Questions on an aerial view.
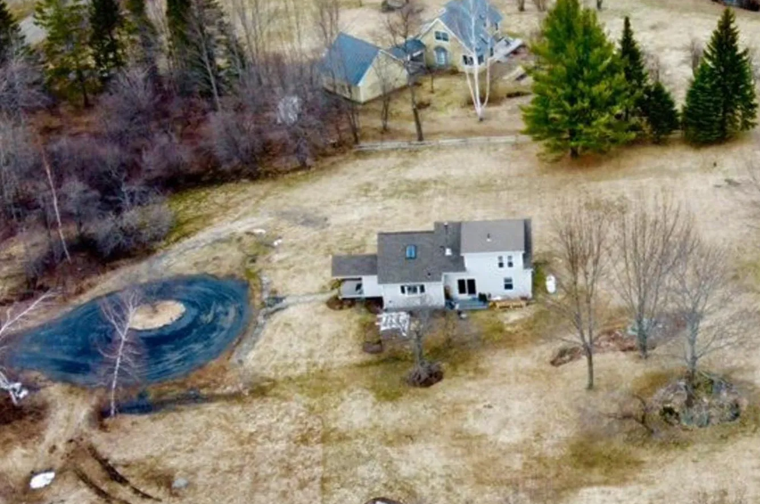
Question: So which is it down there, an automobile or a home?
home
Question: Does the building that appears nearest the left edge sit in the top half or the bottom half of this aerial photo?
top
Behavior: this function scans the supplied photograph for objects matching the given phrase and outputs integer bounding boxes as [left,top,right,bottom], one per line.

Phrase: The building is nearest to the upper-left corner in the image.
[315,36,409,103]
